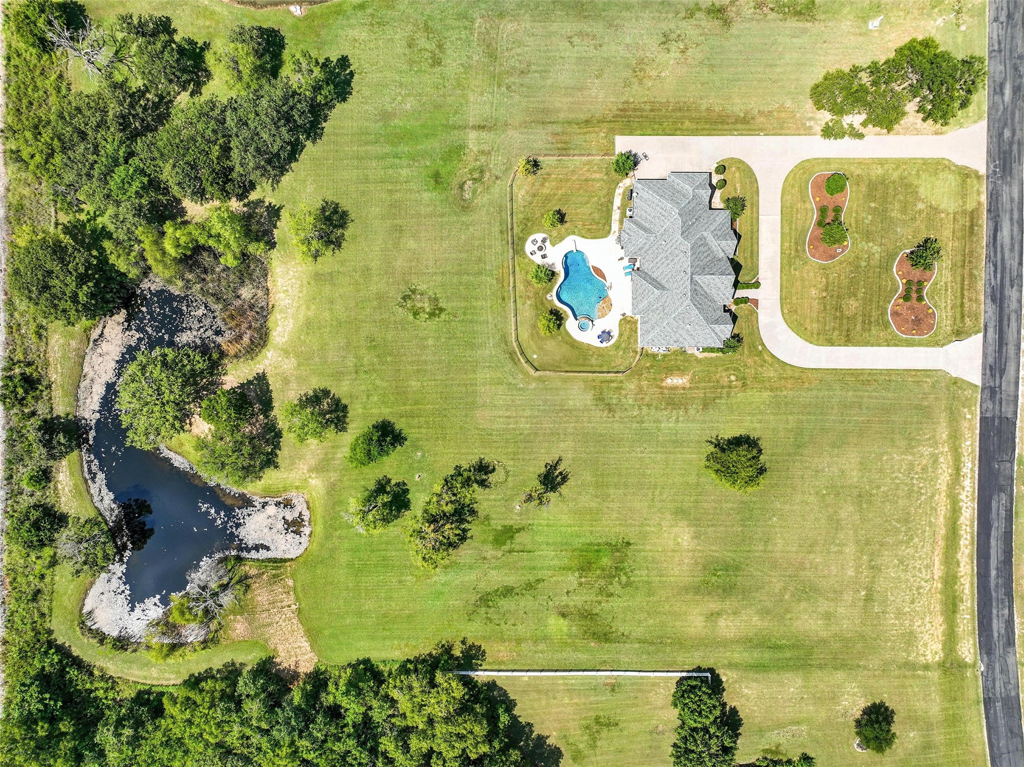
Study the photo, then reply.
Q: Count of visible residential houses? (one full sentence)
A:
The picture shows 1 residential house.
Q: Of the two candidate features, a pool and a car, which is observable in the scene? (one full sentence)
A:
It is a pool that can be seen here.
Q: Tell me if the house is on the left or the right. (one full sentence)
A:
You can find the house on the right side of the picture.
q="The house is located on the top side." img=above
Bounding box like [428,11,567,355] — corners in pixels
[620,172,738,348]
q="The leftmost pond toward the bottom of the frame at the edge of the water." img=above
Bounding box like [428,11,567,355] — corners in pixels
[77,280,313,643]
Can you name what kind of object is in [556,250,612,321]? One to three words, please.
swimming pool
